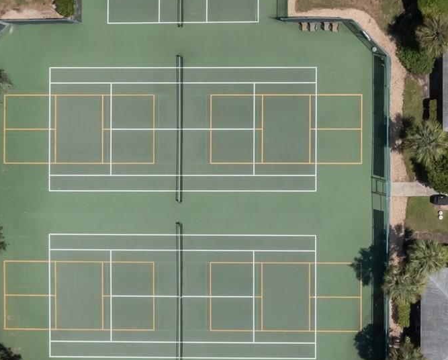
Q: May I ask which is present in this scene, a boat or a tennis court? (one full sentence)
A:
I can see a tennis court in this picture.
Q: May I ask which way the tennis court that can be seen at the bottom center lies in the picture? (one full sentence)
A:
From this overhead view, the tennis court that can be seen at the bottom center appears to run from left to right.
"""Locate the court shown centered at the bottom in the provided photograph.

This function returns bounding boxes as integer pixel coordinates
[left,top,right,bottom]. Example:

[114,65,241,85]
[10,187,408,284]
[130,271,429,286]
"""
[4,234,363,359]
